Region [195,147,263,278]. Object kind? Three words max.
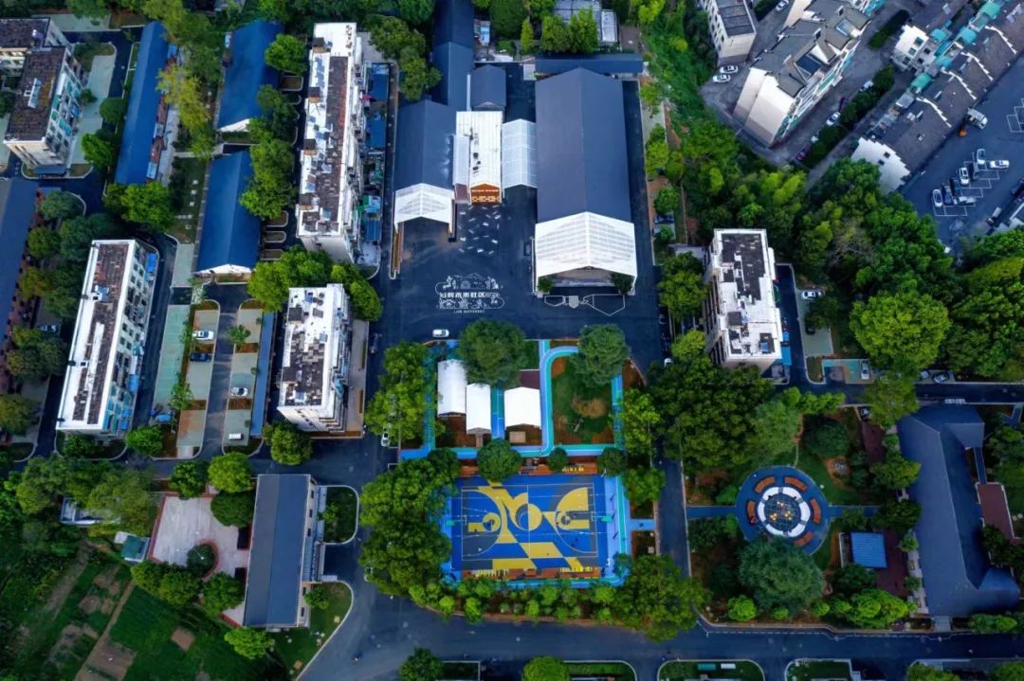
building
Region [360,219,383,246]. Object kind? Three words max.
shed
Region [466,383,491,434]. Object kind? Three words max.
tent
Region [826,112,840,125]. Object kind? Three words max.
vehicle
